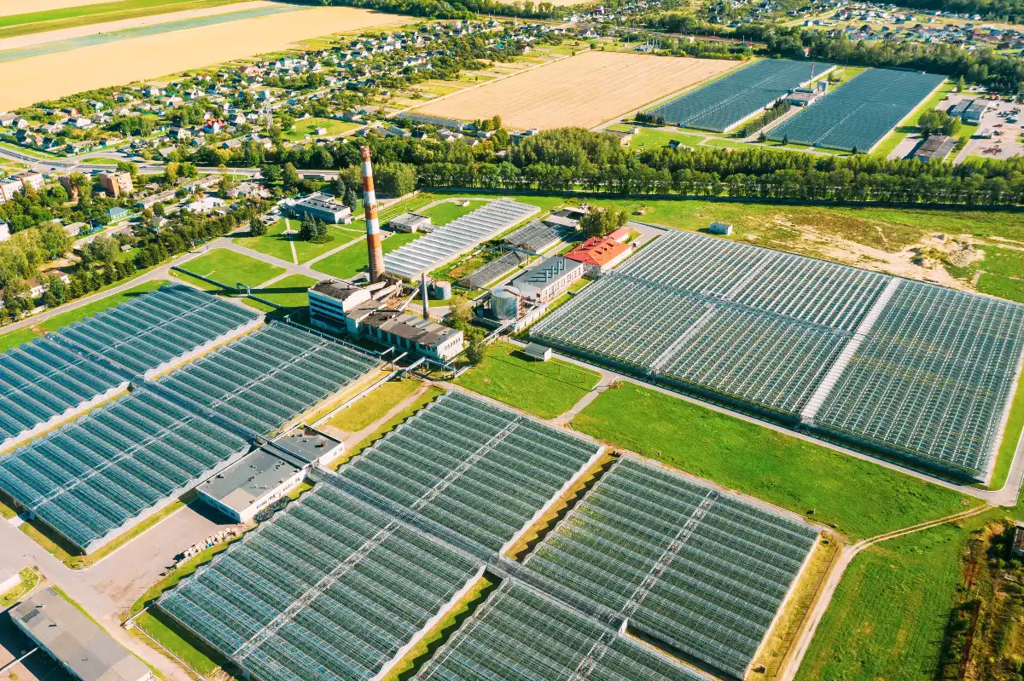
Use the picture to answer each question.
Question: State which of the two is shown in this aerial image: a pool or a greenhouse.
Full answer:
The image shows a greenhouse.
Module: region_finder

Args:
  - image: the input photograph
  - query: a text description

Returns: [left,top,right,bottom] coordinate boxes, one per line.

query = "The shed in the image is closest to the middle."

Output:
[522,345,550,364]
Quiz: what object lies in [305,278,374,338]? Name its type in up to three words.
building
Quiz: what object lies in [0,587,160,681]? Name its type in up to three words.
building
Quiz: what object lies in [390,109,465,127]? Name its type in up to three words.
shed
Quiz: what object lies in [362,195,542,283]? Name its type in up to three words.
greenhouse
